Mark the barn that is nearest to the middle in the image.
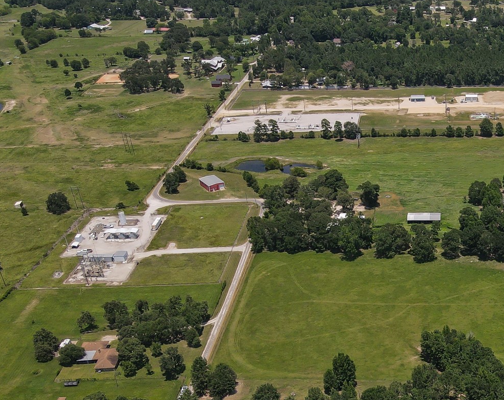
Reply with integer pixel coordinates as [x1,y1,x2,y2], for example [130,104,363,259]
[200,175,225,193]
